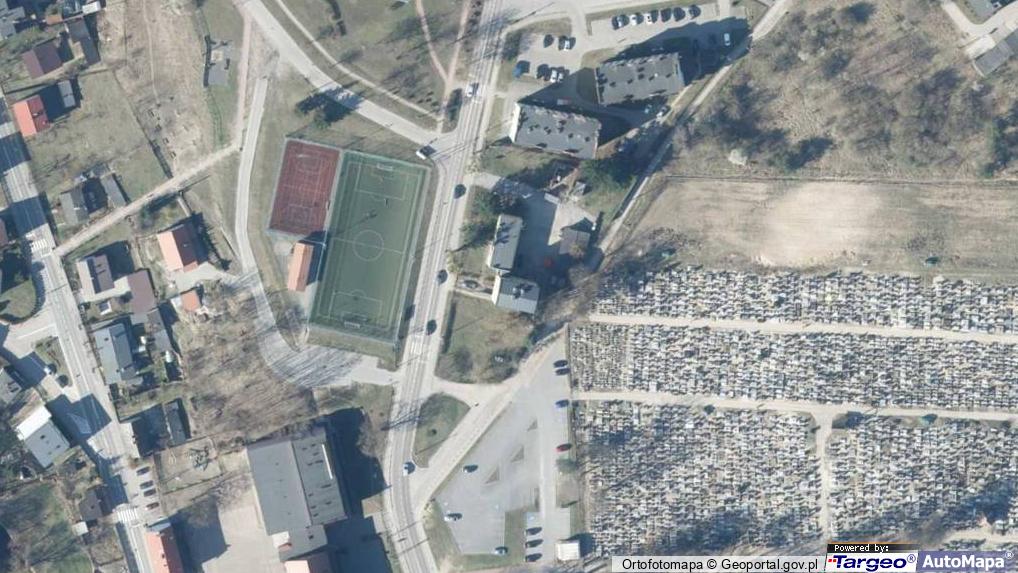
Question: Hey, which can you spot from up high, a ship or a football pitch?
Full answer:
Looking from above, you can make out a football pitch.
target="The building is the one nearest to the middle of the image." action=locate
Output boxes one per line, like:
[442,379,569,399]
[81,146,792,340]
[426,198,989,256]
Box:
[495,276,539,314]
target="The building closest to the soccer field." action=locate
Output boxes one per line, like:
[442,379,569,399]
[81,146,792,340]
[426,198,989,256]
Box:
[288,243,314,291]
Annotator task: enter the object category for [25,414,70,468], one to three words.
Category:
building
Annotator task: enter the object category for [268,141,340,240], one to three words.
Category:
sports court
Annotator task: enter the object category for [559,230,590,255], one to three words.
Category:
shed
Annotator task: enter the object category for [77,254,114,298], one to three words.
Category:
house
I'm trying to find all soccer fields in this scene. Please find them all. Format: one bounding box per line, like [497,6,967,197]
[310,153,429,341]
